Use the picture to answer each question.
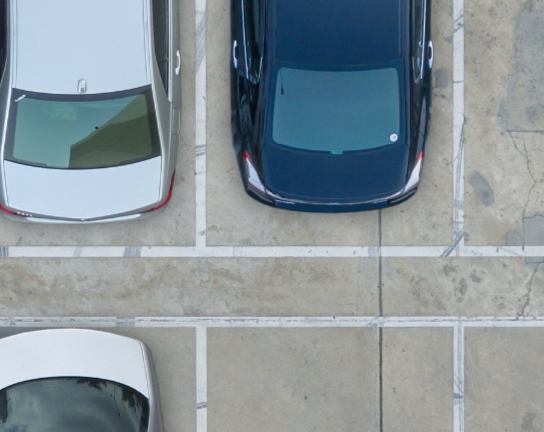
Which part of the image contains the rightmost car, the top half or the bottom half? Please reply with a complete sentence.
The rightmost car sits in the top half of the picture.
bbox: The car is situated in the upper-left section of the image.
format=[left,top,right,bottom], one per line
[0,0,177,224]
